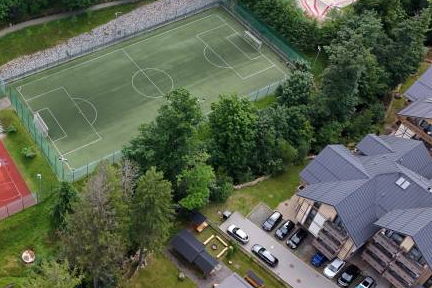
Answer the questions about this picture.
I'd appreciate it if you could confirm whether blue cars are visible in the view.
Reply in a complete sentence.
Yes, I can see a blue car in this picture.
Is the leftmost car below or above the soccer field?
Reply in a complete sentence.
Looking at the photo, you'll find the leftmost car below the soccer field.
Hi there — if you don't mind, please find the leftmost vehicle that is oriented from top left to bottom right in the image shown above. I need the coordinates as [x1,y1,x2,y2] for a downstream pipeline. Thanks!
[225,223,253,244]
